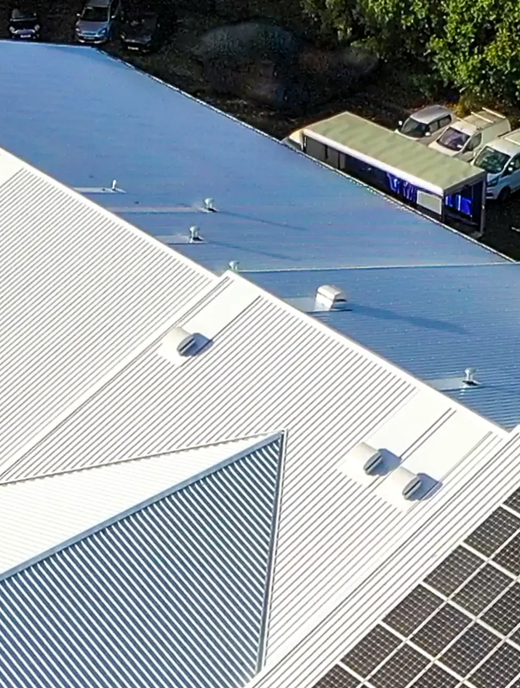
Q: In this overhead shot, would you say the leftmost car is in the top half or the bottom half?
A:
top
